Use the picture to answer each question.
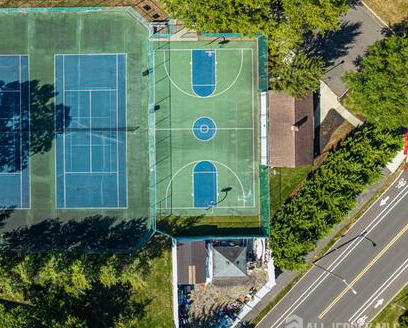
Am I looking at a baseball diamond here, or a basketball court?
basketball court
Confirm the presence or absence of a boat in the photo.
No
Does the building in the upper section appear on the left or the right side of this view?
right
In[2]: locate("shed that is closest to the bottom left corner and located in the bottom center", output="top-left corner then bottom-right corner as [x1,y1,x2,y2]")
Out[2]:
[174,239,207,284]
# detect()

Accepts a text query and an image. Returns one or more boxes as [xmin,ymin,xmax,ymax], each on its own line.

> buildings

[174,239,207,284]
[263,89,314,167]
[212,245,247,284]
